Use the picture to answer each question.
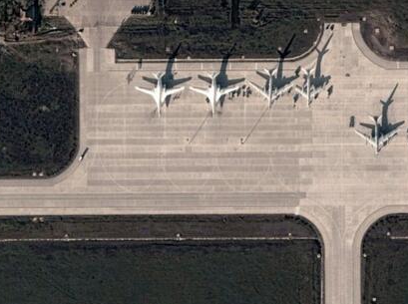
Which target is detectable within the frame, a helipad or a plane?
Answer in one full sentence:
This aerial view contains a plane.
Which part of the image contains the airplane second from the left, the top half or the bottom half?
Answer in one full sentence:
Seen from above, the airplane second from the left lies in the top half of the view.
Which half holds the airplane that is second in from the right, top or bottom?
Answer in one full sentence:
You can find the airplane that is second in from the right in the top half.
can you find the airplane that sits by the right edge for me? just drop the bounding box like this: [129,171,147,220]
[356,113,399,154]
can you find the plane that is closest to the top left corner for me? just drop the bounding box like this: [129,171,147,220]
[134,70,184,117]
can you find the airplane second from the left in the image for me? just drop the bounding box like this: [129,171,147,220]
[190,71,239,117]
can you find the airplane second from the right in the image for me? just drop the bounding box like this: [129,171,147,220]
[294,66,324,108]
